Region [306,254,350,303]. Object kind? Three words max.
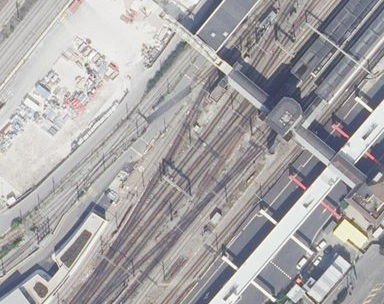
shed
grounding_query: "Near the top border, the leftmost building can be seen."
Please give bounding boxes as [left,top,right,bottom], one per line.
[196,0,259,54]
